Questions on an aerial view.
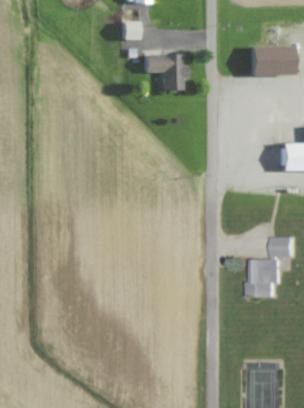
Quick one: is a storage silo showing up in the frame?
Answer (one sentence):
No, the picture doesn't show any storage silo.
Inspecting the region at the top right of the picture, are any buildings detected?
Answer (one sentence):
Yes, I can see a building at the top right of the picture.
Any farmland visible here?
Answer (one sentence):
Yes, there is farmland in the image.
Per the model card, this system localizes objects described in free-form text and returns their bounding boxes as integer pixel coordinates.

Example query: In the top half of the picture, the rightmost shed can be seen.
[281,143,304,173]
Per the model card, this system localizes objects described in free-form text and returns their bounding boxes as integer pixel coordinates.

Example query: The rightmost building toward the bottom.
[268,238,294,260]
